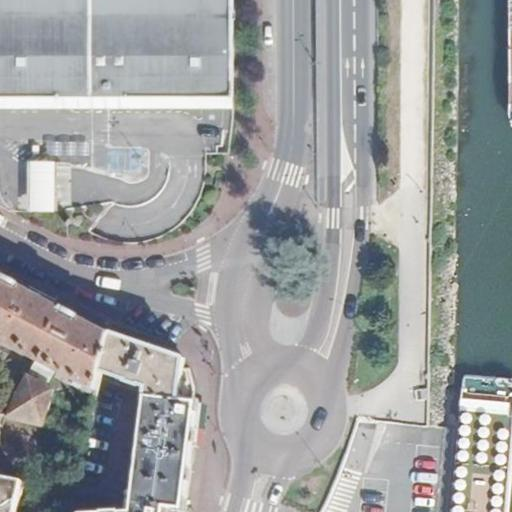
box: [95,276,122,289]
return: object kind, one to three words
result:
vehicle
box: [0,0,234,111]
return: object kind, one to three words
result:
warehouse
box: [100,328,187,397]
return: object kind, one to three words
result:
building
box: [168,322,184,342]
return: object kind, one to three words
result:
car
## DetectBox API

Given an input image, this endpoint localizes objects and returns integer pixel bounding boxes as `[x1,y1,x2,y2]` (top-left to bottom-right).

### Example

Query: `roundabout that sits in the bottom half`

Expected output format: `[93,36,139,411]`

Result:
[221,347,346,479]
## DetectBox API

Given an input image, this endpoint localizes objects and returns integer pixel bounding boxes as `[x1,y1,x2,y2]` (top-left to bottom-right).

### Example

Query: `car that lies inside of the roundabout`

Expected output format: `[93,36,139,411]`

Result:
[312,406,326,430]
